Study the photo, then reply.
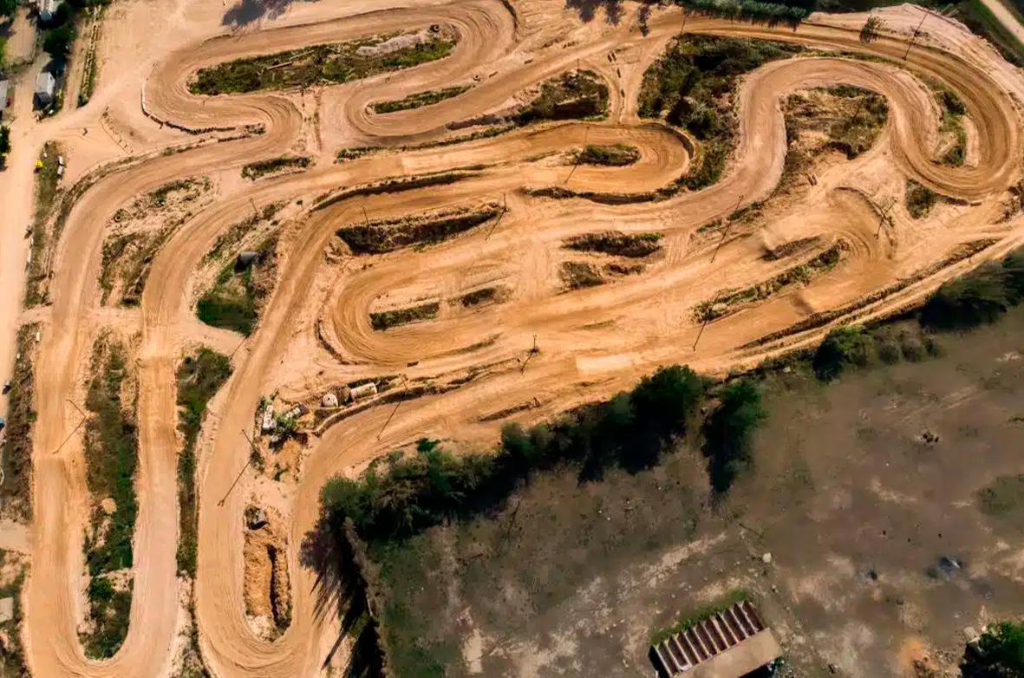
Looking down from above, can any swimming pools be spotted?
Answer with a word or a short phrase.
No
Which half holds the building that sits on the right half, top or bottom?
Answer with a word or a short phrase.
bottom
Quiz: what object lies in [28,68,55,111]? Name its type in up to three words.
shed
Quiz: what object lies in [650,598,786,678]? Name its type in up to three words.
building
